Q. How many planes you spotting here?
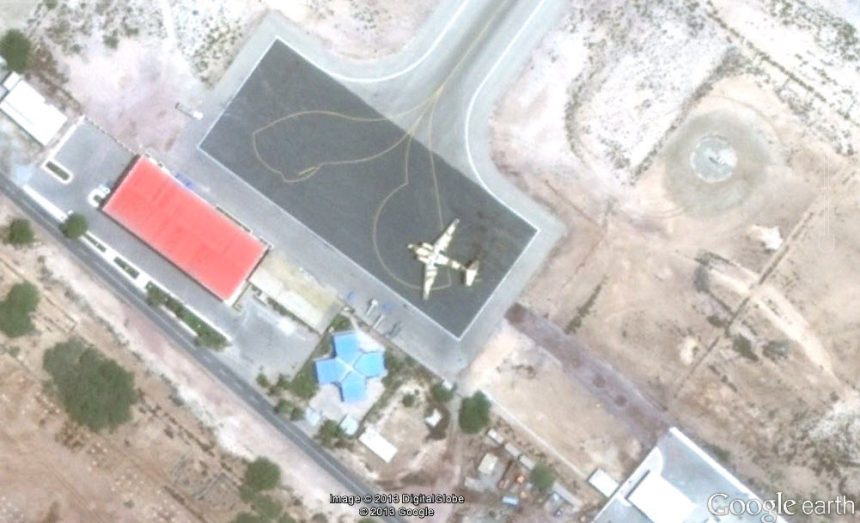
1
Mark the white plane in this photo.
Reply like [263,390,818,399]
[409,218,482,300]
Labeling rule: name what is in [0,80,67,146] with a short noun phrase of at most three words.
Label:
building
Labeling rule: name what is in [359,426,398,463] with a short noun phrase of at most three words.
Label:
house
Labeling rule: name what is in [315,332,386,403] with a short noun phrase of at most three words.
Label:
house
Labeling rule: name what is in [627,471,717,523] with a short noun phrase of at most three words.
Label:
building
